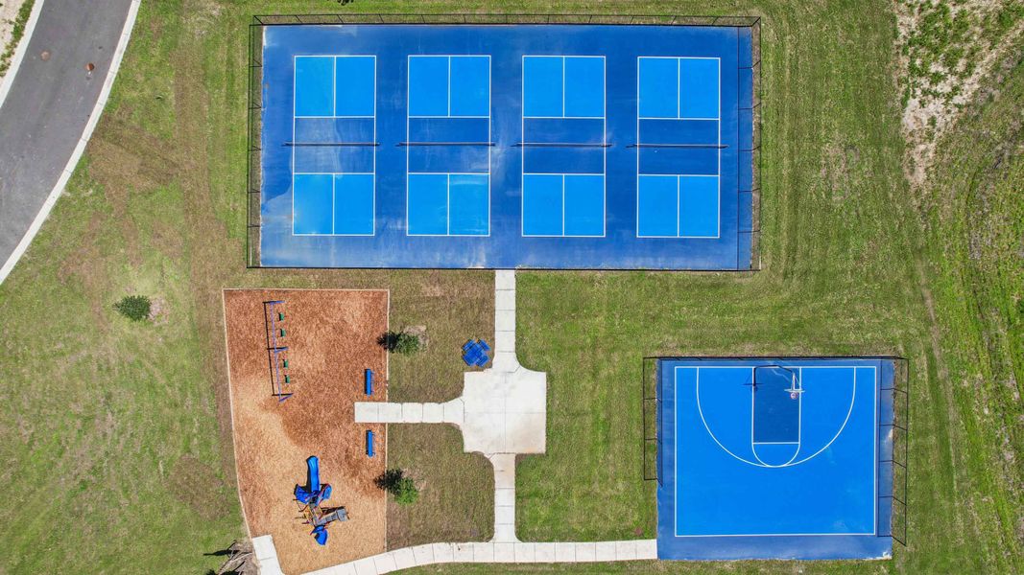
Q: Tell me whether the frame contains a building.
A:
No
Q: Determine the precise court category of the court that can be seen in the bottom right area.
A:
basketball court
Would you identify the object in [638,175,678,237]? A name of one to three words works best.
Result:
sports court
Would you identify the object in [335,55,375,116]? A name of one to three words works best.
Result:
sports court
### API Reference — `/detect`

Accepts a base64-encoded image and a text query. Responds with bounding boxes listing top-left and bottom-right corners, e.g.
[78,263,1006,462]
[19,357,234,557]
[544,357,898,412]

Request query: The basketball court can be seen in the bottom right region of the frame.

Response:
[657,359,894,561]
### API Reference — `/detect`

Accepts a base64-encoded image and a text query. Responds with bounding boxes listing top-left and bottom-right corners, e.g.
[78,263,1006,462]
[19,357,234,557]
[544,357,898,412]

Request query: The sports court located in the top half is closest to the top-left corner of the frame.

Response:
[294,55,334,116]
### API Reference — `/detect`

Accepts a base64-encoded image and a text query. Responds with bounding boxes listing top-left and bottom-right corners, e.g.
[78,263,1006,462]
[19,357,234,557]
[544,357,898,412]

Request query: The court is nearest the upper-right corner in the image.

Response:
[679,58,720,118]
